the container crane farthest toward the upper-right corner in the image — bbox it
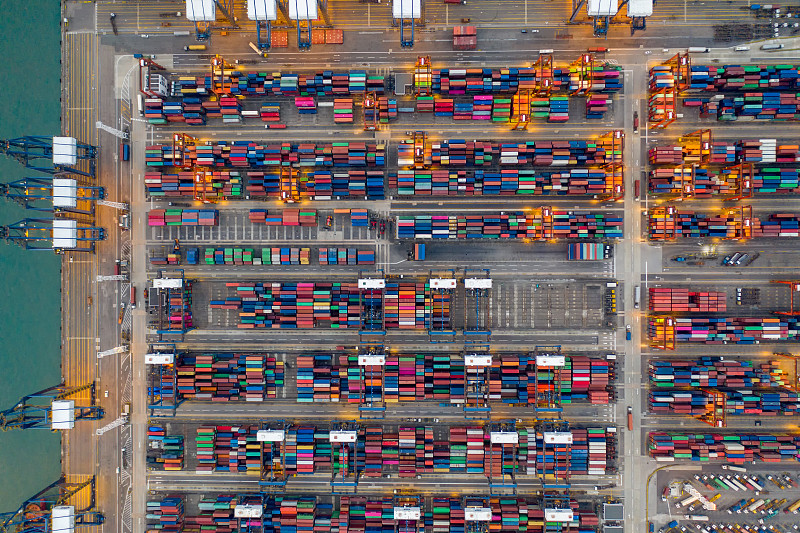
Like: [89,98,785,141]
[660,51,690,95]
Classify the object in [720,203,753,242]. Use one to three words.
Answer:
container crane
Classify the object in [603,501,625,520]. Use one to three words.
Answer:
building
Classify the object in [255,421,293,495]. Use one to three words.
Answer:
container crane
